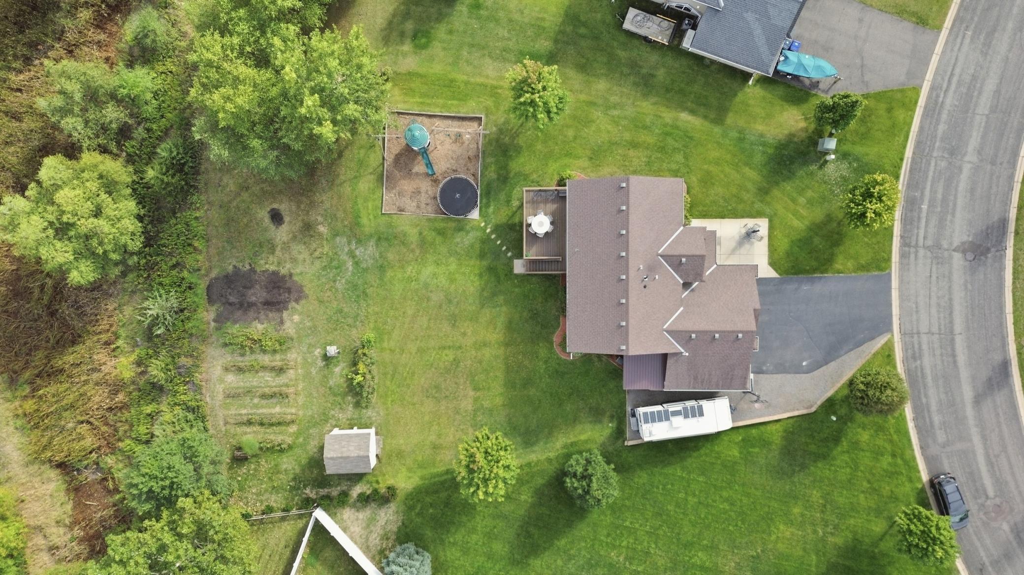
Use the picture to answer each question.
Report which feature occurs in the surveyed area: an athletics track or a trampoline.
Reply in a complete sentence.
It is a trampoline that can be seen here.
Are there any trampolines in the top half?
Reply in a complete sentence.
Yes, I can see a trampoline in the top half.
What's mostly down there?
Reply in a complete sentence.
Most of the picture is covered by grass.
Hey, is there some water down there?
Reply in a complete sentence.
No, there's no water in this view.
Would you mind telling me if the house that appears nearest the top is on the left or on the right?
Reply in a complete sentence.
The house that appears nearest the top appears in the right half of the scene.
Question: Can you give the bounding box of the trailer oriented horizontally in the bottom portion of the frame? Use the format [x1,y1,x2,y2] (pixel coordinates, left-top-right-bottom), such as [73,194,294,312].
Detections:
[627,392,733,442]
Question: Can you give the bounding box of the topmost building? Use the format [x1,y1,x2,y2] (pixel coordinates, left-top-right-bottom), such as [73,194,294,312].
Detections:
[629,0,802,84]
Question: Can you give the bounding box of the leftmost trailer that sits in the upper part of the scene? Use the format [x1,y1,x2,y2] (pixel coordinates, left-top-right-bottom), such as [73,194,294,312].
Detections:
[616,7,679,44]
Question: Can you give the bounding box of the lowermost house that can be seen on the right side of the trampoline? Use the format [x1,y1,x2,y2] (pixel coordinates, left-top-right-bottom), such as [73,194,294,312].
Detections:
[566,175,761,392]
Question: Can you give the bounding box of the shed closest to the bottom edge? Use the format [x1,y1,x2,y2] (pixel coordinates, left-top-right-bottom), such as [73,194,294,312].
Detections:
[323,424,385,474]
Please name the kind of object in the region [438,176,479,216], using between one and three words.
trampoline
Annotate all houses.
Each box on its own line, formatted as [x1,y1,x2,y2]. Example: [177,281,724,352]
[566,175,761,392]
[629,0,802,84]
